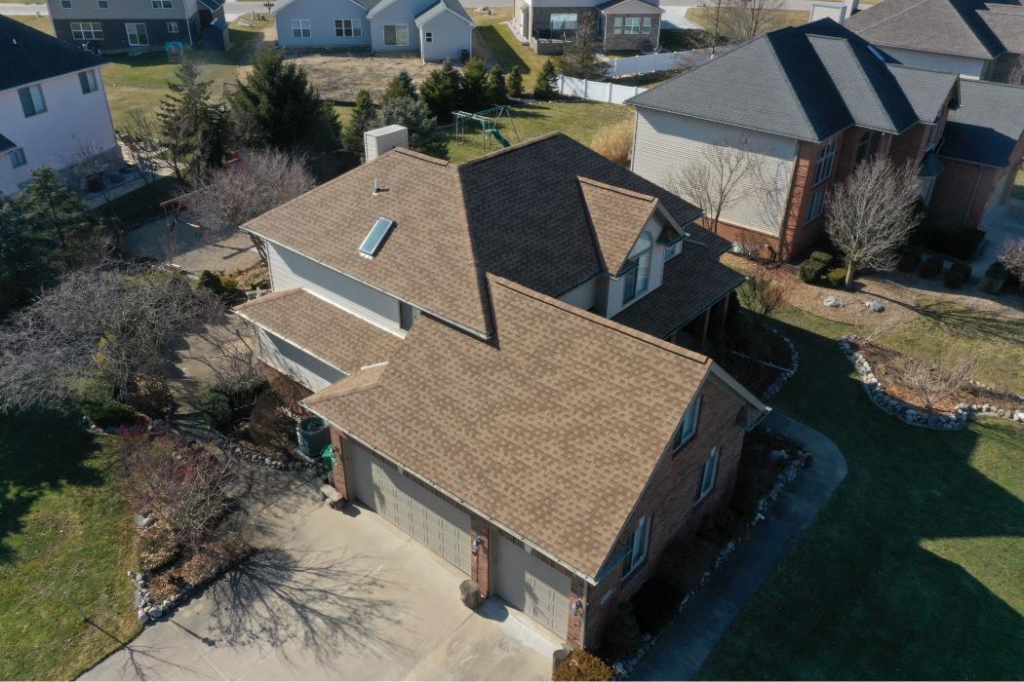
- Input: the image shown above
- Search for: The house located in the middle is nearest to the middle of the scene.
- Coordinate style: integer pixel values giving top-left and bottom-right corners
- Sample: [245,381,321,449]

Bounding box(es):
[231,124,772,652]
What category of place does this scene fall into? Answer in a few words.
residential area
